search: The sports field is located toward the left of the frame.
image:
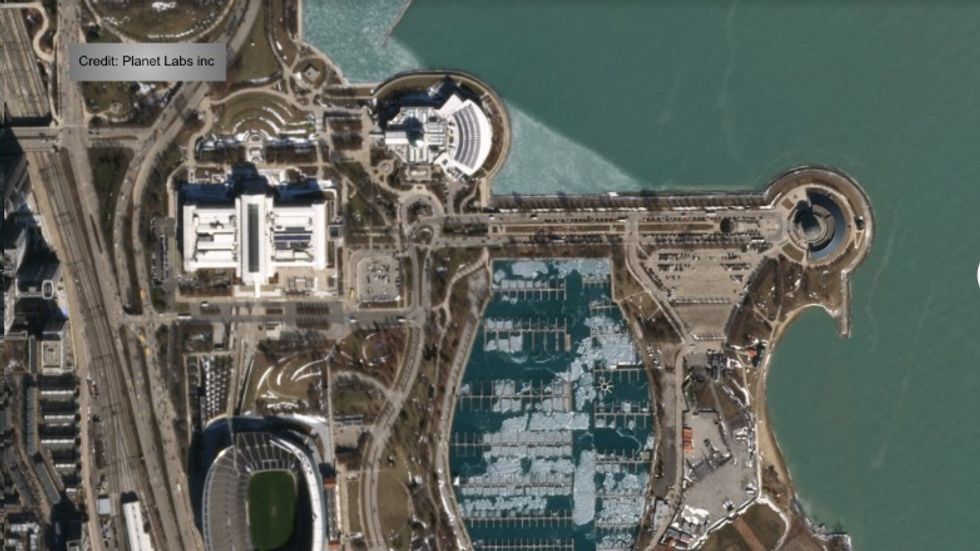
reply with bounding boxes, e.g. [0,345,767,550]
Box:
[246,468,300,551]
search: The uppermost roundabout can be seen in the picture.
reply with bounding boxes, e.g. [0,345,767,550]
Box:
[400,187,442,231]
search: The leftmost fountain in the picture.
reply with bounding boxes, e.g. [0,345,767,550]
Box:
[247,131,263,148]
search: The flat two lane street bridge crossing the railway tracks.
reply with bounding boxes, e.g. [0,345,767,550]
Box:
[0,127,70,151]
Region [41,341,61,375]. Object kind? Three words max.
building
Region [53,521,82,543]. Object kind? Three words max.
building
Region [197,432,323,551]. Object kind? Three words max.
stadium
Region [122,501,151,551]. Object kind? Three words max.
shed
